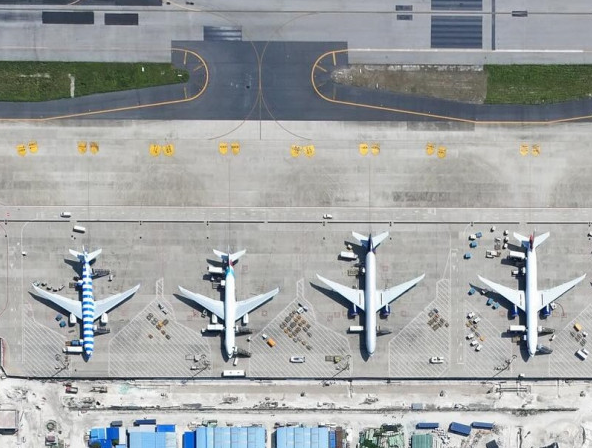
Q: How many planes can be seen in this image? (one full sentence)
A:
The photo contains 4 planes.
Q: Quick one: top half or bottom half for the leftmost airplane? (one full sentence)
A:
The leftmost airplane sits in the bottom half of the picture.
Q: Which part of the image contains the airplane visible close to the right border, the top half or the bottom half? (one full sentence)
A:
Seen from above, the airplane visible close to the right border lies in the bottom half of the view.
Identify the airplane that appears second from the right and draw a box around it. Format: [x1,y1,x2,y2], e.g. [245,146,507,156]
[316,232,424,356]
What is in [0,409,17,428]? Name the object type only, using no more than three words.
building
